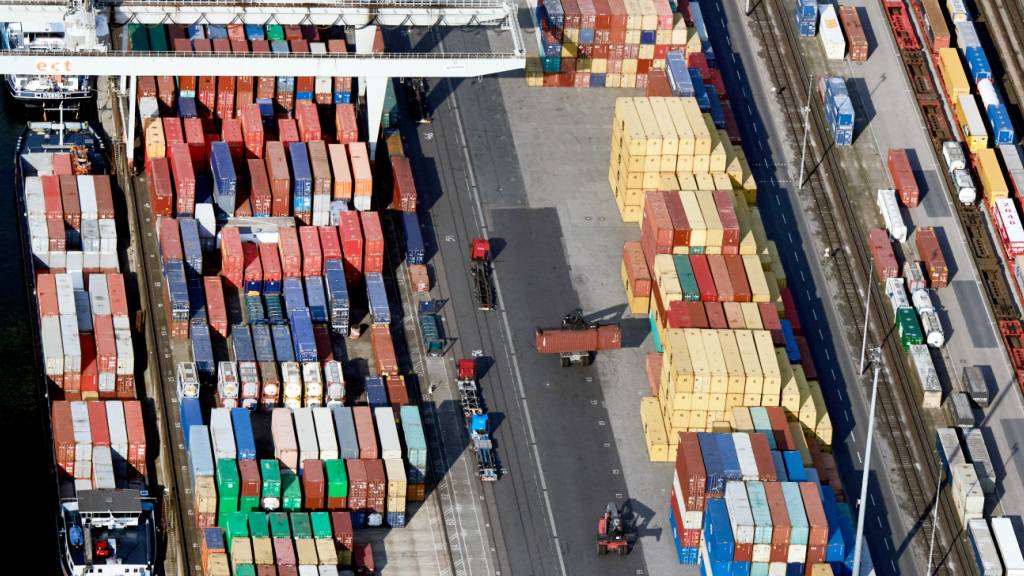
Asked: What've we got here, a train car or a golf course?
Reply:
train car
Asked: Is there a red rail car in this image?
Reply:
Yes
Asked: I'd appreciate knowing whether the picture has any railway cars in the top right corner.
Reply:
Yes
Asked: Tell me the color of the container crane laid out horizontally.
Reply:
white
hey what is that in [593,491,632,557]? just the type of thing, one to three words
work vehicle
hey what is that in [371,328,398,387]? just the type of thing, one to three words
shipping container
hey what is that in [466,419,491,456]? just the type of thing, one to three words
truck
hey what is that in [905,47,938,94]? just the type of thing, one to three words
rail car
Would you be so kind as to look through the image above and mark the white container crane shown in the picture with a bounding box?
[0,0,528,167]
